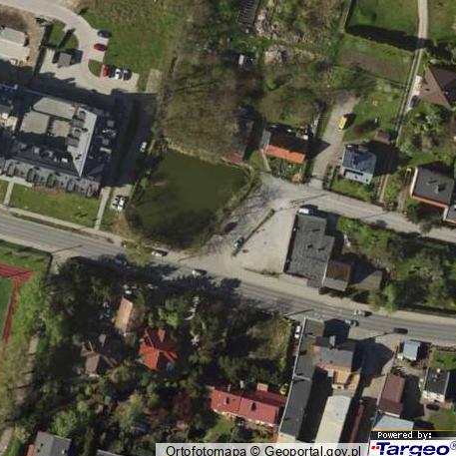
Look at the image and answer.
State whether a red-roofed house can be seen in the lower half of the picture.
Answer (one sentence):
Yes, a red-roofed house can be seen in the lower half of the picture.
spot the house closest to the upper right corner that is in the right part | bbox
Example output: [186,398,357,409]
[419,66,456,108]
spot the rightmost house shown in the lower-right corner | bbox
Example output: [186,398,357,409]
[424,367,452,396]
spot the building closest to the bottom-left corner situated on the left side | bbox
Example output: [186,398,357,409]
[33,432,72,456]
